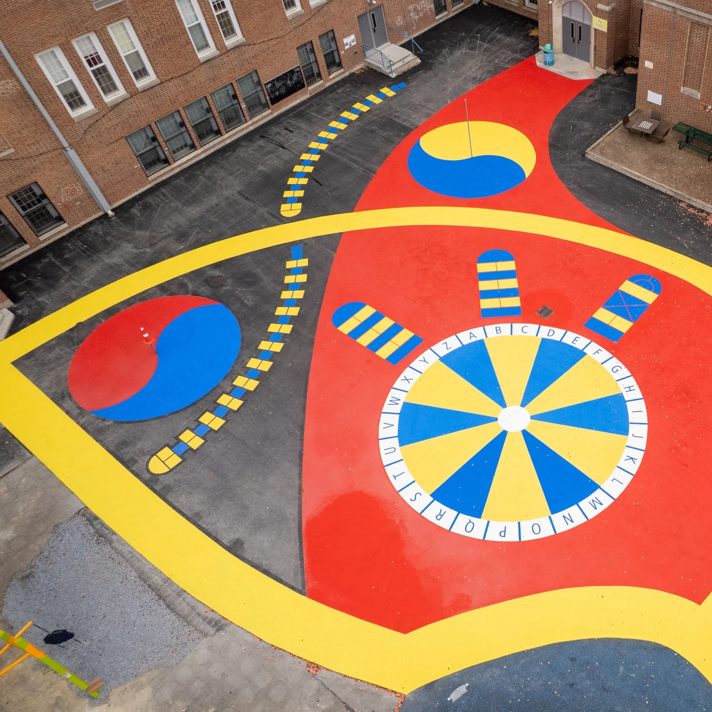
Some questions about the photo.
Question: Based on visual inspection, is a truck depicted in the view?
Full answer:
No, no truck is visible in the view.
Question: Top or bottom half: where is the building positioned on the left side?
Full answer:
The building positioned on the left side sits in the top half of the picture.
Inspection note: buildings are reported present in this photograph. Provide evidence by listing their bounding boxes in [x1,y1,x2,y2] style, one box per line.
[0,0,539,310]
[636,0,712,132]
